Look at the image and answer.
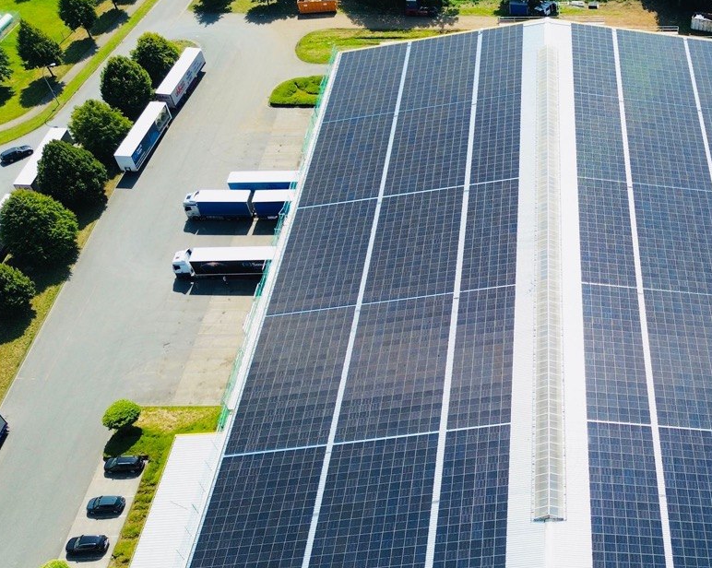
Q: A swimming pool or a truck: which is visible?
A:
truck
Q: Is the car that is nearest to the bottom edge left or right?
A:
left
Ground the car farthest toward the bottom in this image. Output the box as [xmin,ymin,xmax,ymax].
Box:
[63,536,113,558]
